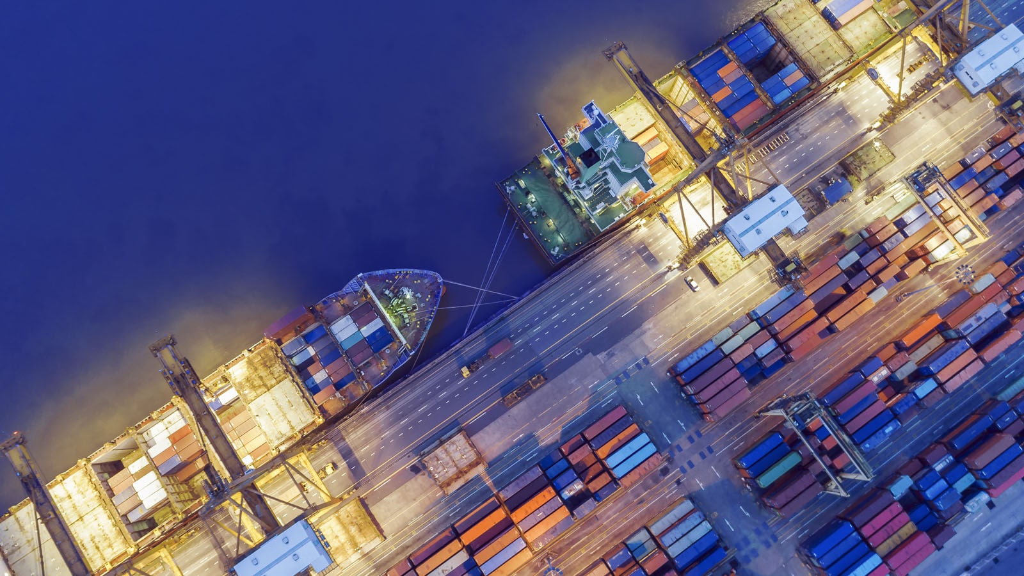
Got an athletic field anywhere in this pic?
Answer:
No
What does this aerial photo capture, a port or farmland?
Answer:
port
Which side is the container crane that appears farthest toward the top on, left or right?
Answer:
right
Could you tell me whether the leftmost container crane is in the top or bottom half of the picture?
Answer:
bottom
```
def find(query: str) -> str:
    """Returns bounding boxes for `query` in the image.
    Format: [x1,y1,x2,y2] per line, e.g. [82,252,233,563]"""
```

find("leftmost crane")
[0,430,236,576]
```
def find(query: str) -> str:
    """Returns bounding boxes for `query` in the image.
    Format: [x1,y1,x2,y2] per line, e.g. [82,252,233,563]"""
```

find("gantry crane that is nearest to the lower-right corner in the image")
[754,386,879,499]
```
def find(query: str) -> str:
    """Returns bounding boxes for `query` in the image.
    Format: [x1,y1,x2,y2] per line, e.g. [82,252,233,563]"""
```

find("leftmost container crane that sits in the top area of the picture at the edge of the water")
[603,37,808,285]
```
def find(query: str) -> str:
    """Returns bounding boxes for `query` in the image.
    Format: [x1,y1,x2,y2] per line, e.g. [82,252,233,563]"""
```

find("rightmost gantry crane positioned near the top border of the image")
[799,0,1024,158]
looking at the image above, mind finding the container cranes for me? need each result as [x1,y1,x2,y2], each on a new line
[867,159,998,274]
[754,386,879,499]
[603,37,808,285]
[799,0,1024,158]
[145,331,375,576]
[0,430,236,576]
